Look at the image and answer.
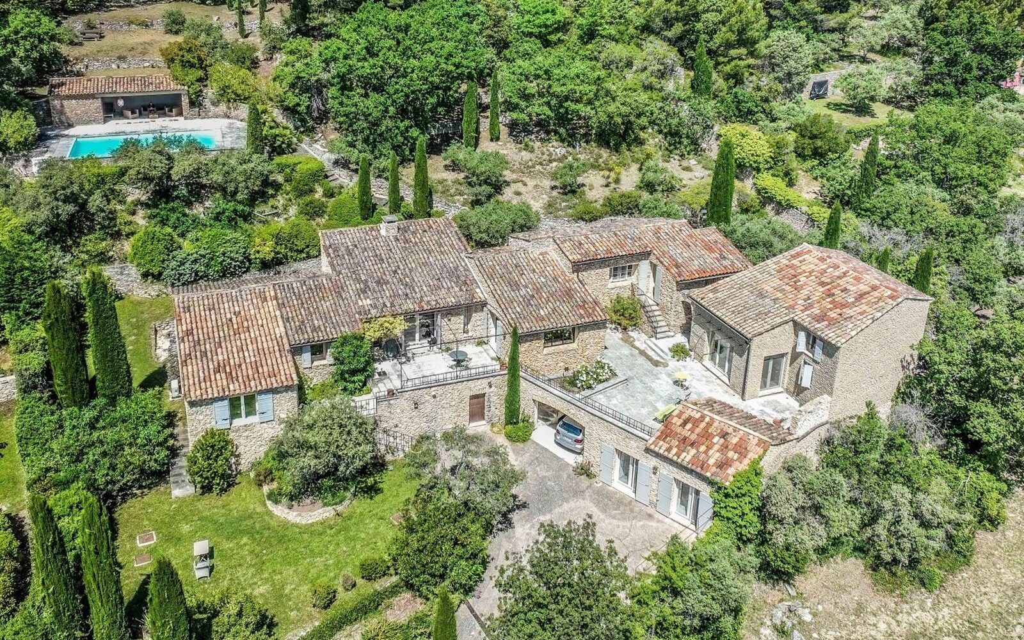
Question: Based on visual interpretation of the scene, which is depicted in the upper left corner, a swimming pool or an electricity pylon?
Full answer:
You can see a swimming pool in the upper left corner.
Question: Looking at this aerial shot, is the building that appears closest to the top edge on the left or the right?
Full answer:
The building that appears closest to the top edge is on the left side of the image.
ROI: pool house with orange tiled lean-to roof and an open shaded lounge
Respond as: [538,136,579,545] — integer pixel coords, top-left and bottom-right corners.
[47,67,187,126]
